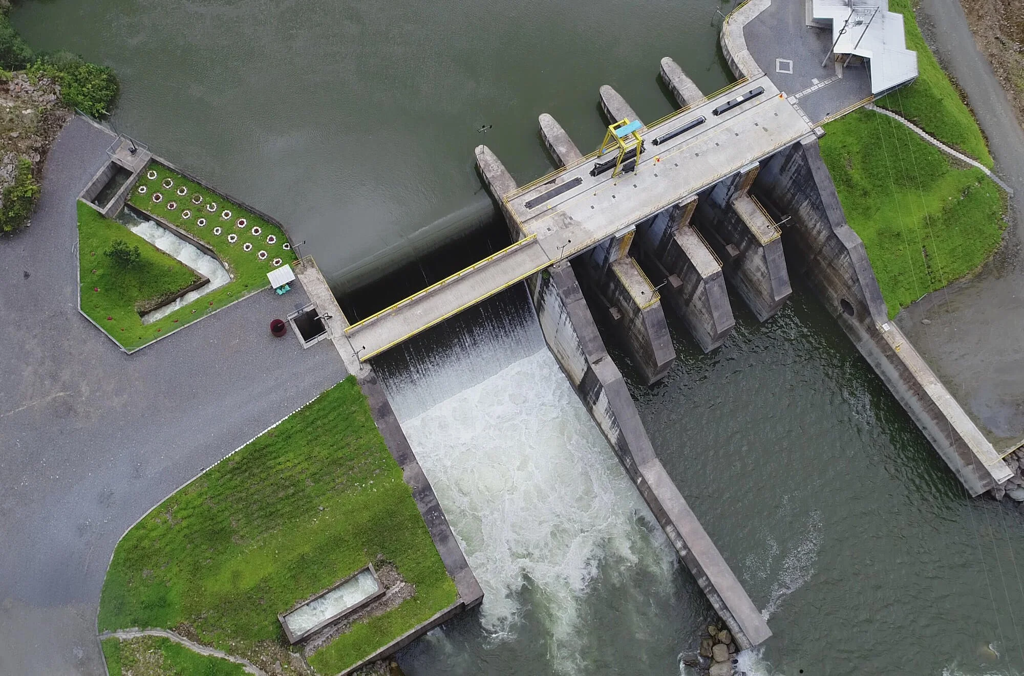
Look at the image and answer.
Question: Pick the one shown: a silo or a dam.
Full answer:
Visible in the photo is a dam.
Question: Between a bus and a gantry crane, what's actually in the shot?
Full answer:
There is a gantry crane in the scene.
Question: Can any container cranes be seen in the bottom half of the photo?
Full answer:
No, there is no container crane in the bottom half of the photo.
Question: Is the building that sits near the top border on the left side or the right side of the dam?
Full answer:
Relative to the dam, the building that sits near the top border is on the right.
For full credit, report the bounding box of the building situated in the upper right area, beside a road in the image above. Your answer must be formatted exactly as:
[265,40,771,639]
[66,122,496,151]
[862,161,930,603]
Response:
[806,0,921,103]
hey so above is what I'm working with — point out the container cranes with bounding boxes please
[597,114,645,178]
